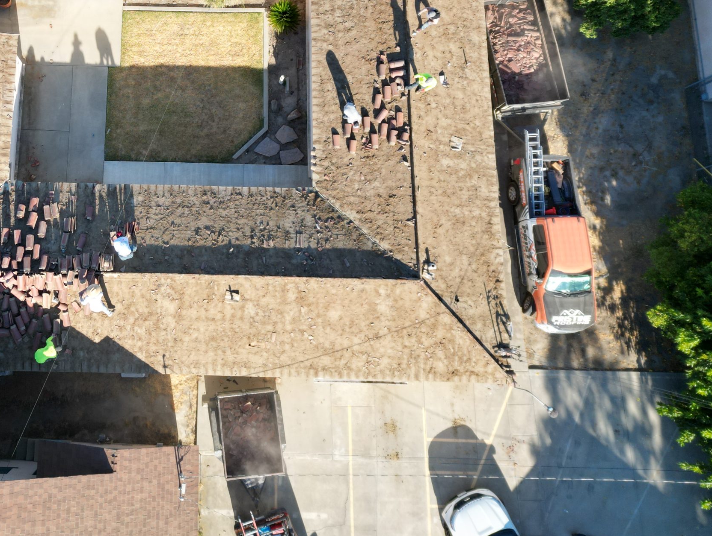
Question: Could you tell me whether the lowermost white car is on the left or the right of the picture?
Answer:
right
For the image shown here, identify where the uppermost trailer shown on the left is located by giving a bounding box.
[205,381,292,510]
